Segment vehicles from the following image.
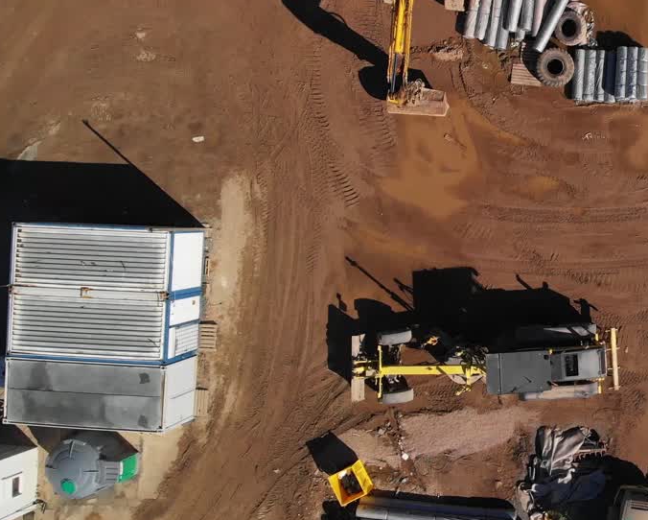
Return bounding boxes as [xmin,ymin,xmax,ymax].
[350,325,620,406]
[610,480,648,520]
[381,0,468,114]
